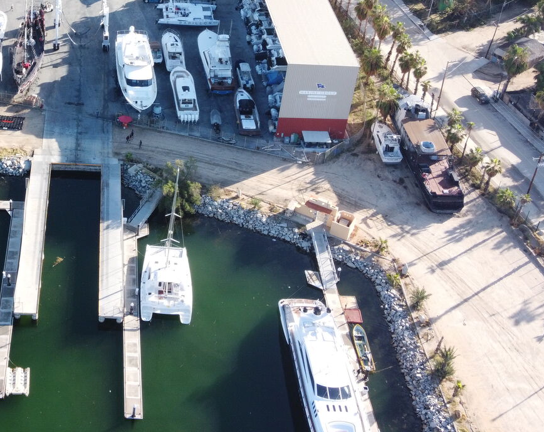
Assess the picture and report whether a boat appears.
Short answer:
Yes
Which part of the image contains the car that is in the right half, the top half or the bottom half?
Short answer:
top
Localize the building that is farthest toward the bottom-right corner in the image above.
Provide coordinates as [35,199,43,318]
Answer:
[329,210,352,239]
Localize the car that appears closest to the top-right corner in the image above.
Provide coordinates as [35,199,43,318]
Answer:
[468,84,493,104]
